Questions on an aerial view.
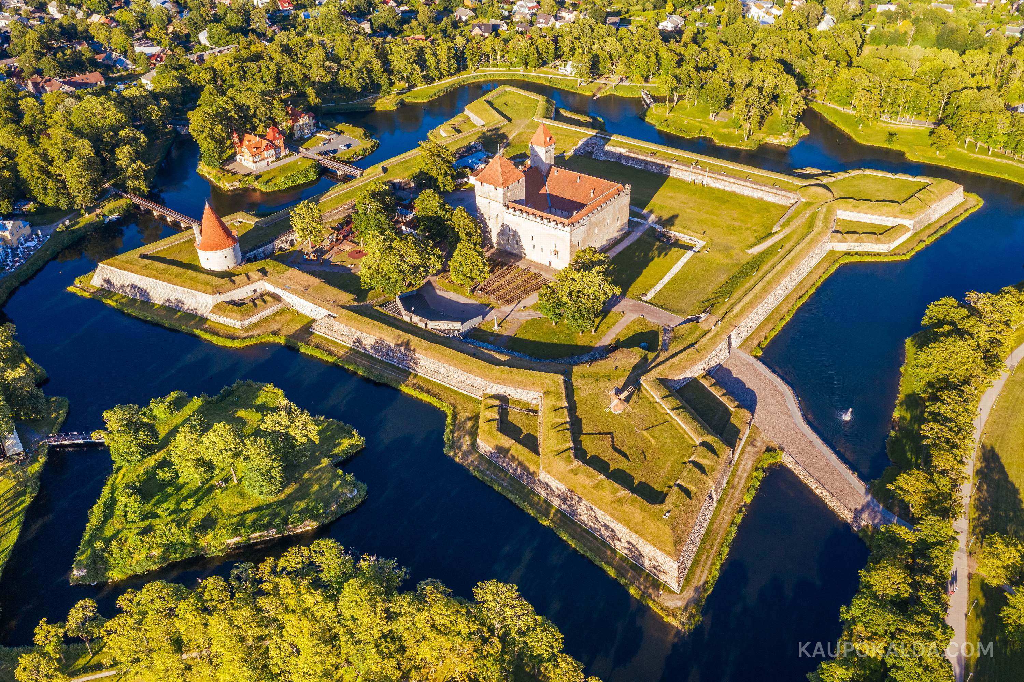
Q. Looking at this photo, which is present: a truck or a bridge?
bridge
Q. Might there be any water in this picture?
Yes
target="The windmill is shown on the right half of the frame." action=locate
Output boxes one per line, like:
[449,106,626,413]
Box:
[607,382,638,415]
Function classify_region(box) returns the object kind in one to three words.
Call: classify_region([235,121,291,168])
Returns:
house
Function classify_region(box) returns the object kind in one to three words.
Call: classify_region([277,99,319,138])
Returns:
house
